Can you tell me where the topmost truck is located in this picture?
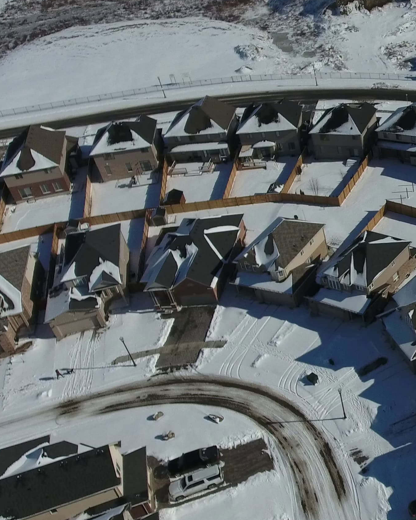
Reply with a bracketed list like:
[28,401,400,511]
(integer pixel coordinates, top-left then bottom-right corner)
[165,447,224,481]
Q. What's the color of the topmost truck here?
black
